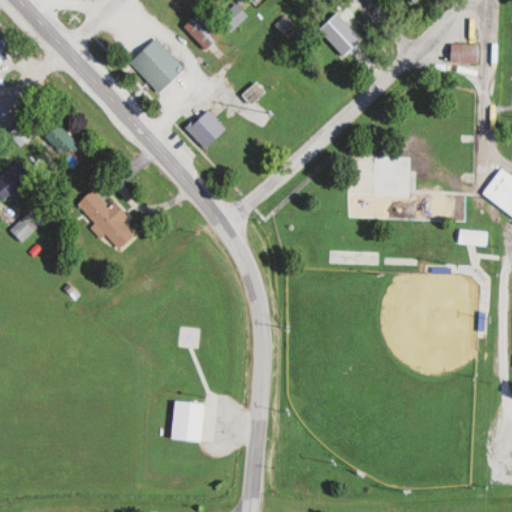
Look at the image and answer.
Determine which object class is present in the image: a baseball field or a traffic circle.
baseball field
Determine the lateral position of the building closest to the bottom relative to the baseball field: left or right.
on its left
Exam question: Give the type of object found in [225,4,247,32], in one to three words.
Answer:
house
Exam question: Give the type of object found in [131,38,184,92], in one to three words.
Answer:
building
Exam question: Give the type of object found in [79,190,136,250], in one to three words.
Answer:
house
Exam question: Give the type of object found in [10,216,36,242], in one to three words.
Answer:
shed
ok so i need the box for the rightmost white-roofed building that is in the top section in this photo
[483,168,512,216]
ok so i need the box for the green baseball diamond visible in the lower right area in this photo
[287,270,480,487]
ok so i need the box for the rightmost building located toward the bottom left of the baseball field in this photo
[170,401,204,442]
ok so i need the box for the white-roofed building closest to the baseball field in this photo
[458,228,490,248]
